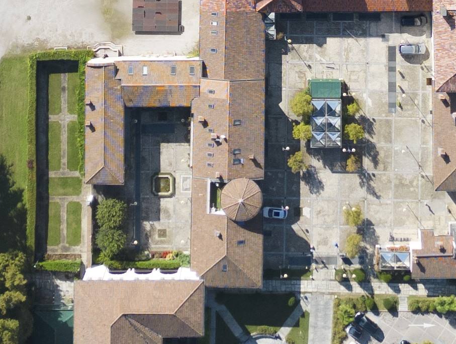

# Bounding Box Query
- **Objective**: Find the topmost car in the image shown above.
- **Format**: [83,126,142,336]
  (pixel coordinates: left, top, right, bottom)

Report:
[400,12,429,26]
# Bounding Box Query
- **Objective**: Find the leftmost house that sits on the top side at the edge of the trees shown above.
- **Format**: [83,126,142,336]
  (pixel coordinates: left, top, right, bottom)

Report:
[84,55,199,186]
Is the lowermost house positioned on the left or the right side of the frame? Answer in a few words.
left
